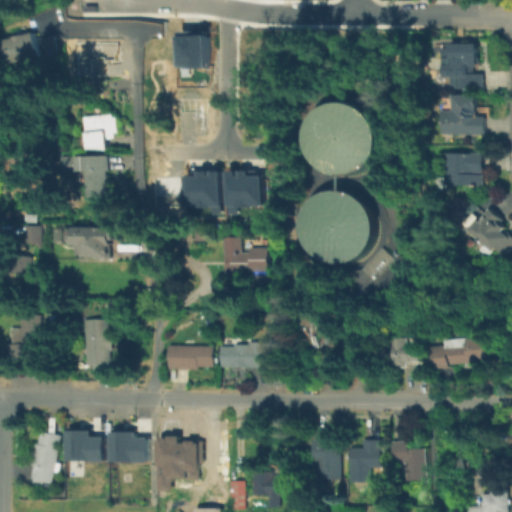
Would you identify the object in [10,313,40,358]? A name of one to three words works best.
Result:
house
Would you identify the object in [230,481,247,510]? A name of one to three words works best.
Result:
shed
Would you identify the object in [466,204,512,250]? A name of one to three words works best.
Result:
house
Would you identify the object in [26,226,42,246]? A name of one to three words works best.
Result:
shed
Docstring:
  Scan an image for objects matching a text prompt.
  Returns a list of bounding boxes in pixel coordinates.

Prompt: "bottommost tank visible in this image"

[296,190,370,265]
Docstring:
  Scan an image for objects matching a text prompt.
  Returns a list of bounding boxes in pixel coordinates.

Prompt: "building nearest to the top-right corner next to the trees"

[442,42,486,90]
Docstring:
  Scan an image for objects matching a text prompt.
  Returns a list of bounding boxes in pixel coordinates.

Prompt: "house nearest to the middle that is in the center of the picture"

[224,238,267,272]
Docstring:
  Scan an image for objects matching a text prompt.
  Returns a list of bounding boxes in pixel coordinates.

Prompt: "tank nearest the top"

[300,102,373,175]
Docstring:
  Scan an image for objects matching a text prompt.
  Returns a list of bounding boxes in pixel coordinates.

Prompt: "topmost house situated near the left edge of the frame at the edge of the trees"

[0,33,32,62]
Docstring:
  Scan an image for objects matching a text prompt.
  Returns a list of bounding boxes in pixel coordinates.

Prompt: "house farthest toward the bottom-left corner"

[32,433,60,485]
